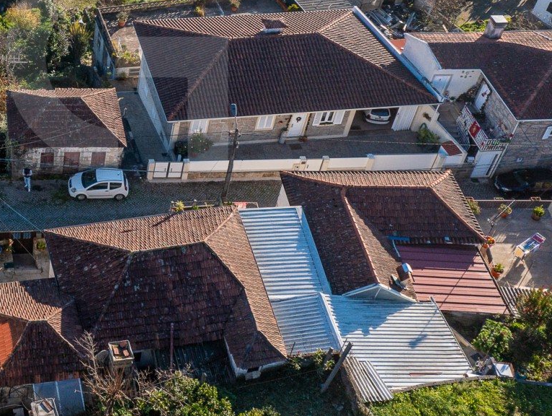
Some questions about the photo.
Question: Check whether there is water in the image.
No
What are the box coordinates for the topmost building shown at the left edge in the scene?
[6,86,128,175]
